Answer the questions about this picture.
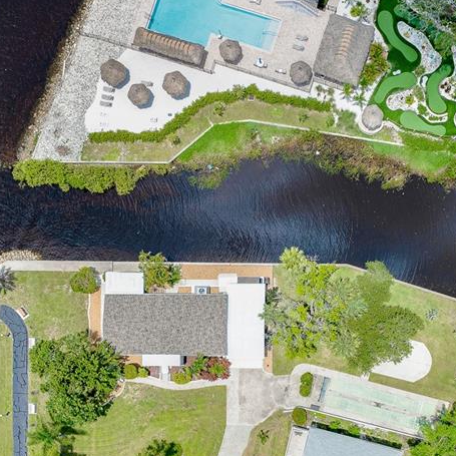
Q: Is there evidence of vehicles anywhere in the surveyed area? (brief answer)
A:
No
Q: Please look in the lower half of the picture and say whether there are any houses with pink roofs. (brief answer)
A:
No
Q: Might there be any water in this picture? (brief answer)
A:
Yes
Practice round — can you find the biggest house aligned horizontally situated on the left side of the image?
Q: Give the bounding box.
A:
[101,293,228,355]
